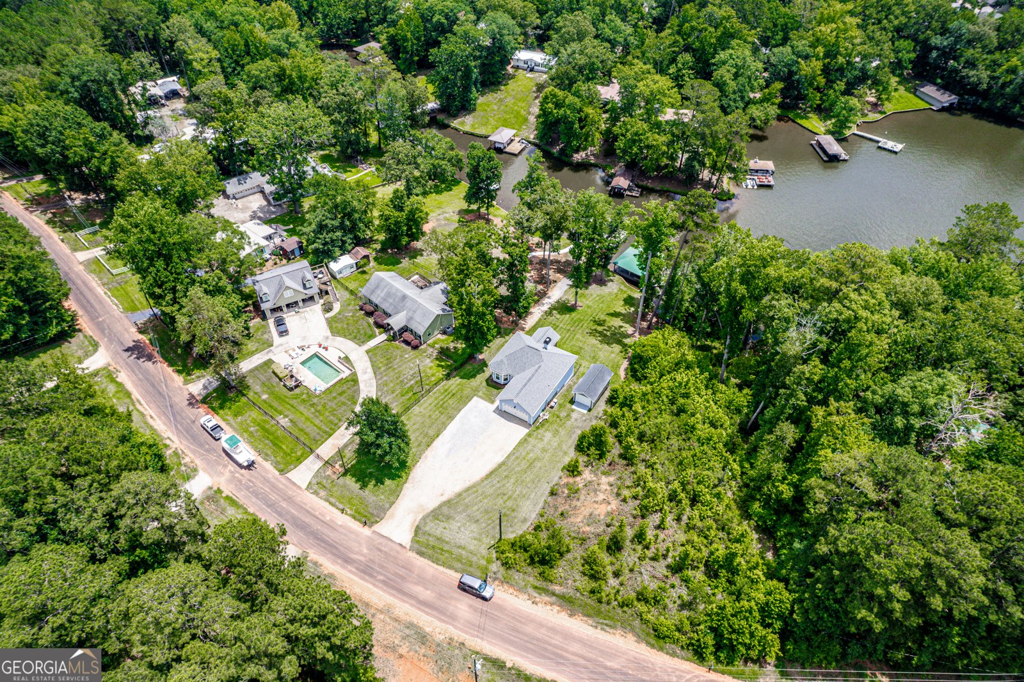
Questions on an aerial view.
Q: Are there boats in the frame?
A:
Yes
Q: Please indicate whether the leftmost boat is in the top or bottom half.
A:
bottom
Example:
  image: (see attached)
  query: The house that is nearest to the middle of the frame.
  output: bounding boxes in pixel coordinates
[487,326,583,425]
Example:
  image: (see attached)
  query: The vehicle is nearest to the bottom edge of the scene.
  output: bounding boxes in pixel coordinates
[456,570,495,602]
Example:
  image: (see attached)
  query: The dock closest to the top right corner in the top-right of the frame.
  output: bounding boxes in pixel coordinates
[851,132,923,159]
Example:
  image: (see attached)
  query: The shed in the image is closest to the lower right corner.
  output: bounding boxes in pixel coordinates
[572,366,612,414]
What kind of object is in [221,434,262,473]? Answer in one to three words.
boat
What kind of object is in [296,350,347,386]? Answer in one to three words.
swimming pool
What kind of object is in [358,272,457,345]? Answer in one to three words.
building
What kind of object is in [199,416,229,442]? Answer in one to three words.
truck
